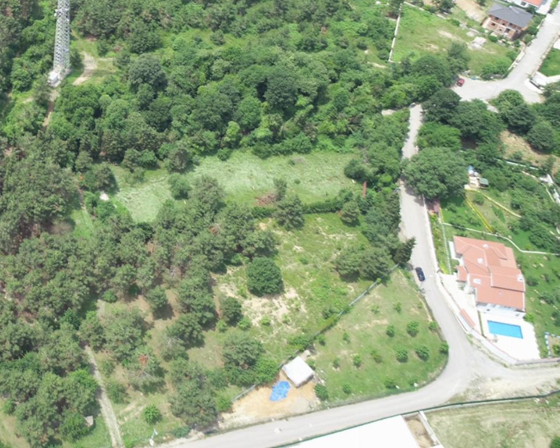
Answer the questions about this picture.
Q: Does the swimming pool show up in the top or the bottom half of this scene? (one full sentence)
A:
Seen from above, the swimming pool lies in the bottom half of the view.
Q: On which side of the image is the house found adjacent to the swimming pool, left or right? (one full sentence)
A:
You can find the house found adjacent to the swimming pool on the right side of the picture.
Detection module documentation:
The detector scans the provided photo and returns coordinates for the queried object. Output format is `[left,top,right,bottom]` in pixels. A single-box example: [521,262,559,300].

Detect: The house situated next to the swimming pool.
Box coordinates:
[448,236,528,319]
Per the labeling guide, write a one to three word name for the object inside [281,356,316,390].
shed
